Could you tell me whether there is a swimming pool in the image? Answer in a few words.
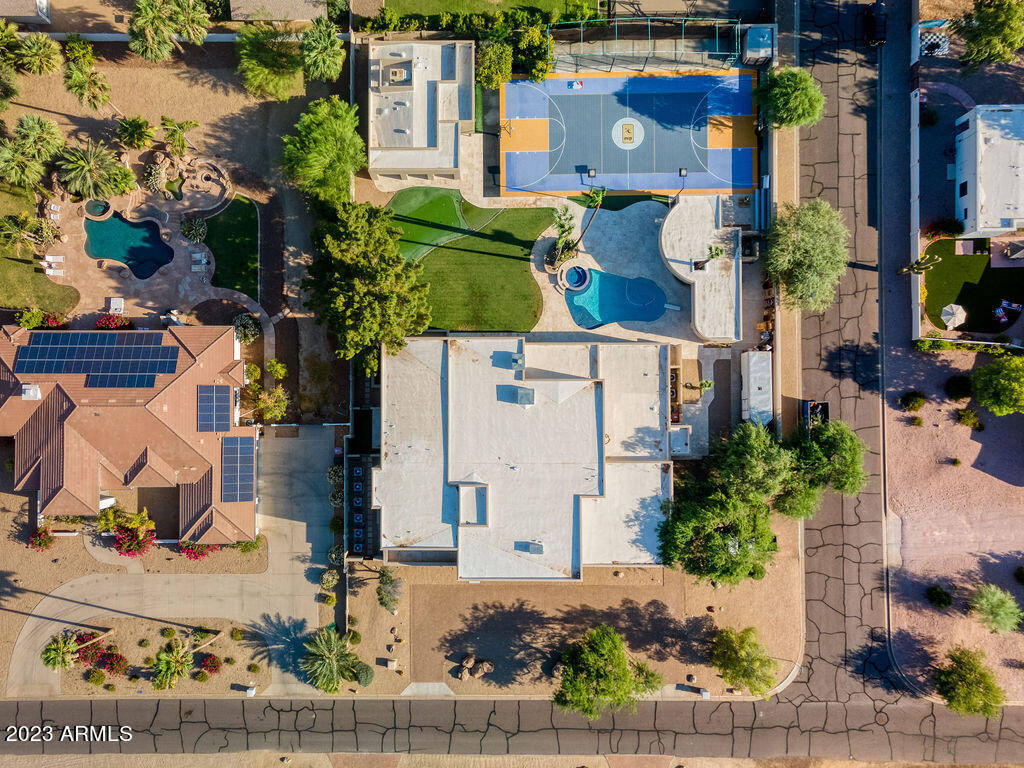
Yes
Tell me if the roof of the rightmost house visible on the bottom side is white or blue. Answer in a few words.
white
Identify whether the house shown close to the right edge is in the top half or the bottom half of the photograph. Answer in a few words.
top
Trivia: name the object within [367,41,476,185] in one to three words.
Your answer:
house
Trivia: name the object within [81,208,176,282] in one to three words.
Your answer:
swimming pool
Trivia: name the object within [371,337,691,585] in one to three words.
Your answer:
house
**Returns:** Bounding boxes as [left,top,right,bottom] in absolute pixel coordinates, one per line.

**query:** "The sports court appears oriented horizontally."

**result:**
[500,71,757,197]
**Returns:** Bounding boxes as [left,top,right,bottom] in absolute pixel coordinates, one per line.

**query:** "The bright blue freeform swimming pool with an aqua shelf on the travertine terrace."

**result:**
[563,267,670,332]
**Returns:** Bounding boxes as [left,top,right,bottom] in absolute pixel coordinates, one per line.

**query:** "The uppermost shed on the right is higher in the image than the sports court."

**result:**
[743,29,773,65]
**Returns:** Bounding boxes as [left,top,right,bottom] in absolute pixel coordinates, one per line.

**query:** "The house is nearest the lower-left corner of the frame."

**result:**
[0,325,261,545]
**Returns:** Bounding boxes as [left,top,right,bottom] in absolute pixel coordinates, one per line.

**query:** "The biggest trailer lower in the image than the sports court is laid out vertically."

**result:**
[739,351,774,429]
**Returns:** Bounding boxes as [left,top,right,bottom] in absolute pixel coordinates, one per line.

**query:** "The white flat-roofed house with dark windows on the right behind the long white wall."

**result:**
[954,105,1024,236]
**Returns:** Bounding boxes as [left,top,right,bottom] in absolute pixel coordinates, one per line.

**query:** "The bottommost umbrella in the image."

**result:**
[939,304,965,329]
